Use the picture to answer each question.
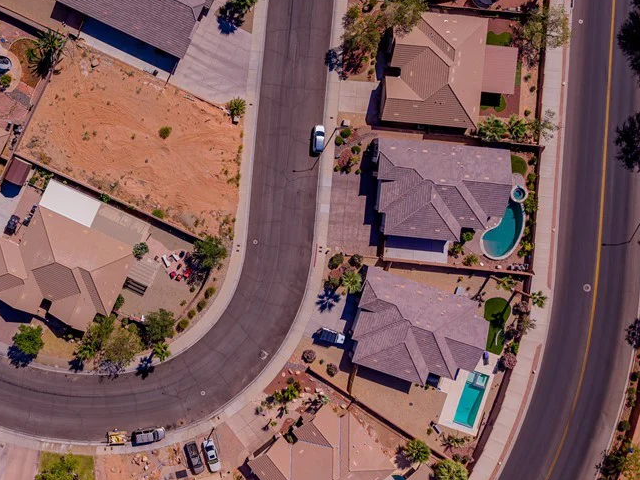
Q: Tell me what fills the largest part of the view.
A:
paved ground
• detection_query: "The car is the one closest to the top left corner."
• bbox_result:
[2,213,22,238]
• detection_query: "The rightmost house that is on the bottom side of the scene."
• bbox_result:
[351,266,490,386]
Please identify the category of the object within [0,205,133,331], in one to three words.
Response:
house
